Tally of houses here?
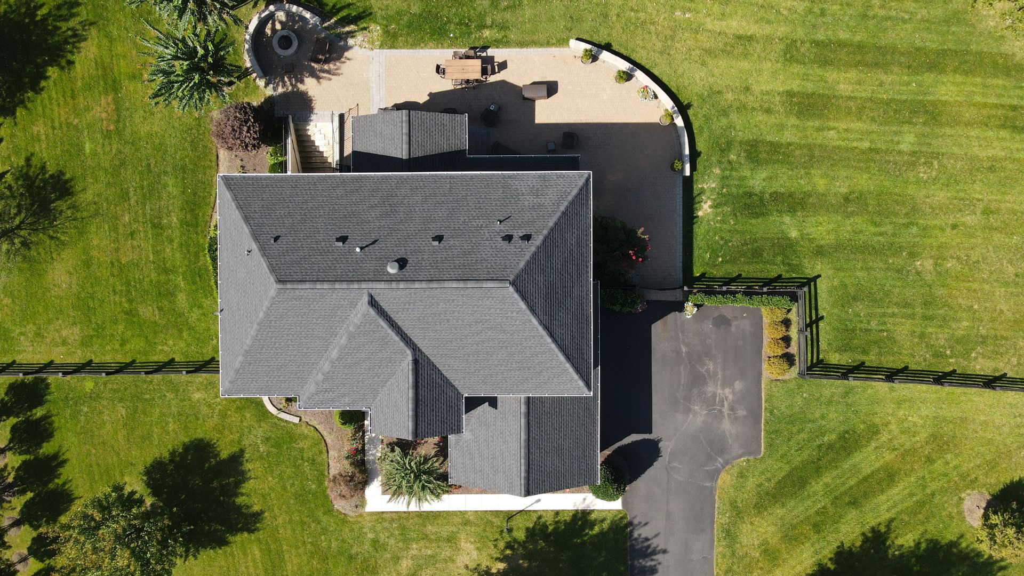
one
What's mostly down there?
grass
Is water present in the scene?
No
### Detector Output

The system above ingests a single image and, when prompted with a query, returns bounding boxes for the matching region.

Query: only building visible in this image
[209,109,601,496]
